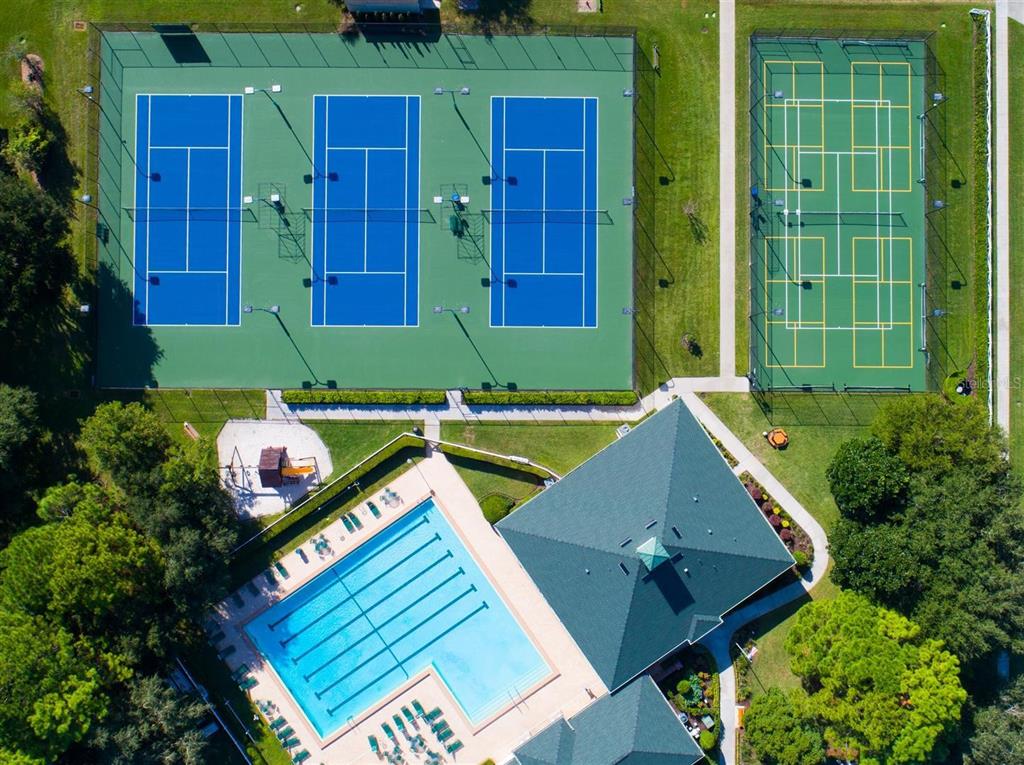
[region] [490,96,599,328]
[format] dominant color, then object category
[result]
blue tennis court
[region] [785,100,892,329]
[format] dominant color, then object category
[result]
green tennis court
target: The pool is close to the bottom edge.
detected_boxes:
[232,490,563,750]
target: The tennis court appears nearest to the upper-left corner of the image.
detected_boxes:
[132,94,243,326]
